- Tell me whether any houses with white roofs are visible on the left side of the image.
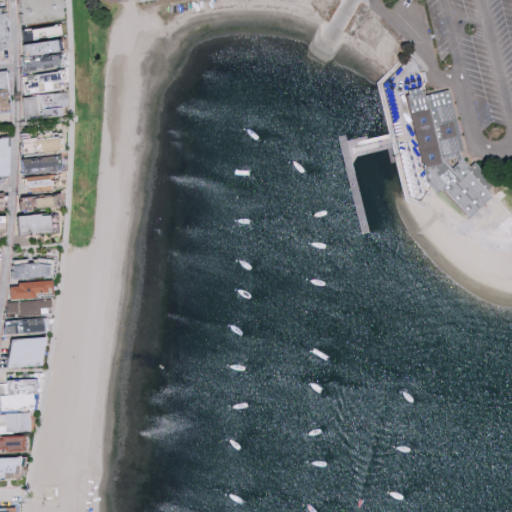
Yes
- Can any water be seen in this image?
Yes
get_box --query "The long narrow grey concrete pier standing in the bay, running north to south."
[340,136,370,234]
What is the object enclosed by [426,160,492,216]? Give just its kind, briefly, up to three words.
building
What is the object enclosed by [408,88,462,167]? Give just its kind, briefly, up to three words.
building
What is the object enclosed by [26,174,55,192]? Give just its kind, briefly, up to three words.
house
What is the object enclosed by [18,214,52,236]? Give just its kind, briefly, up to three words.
house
